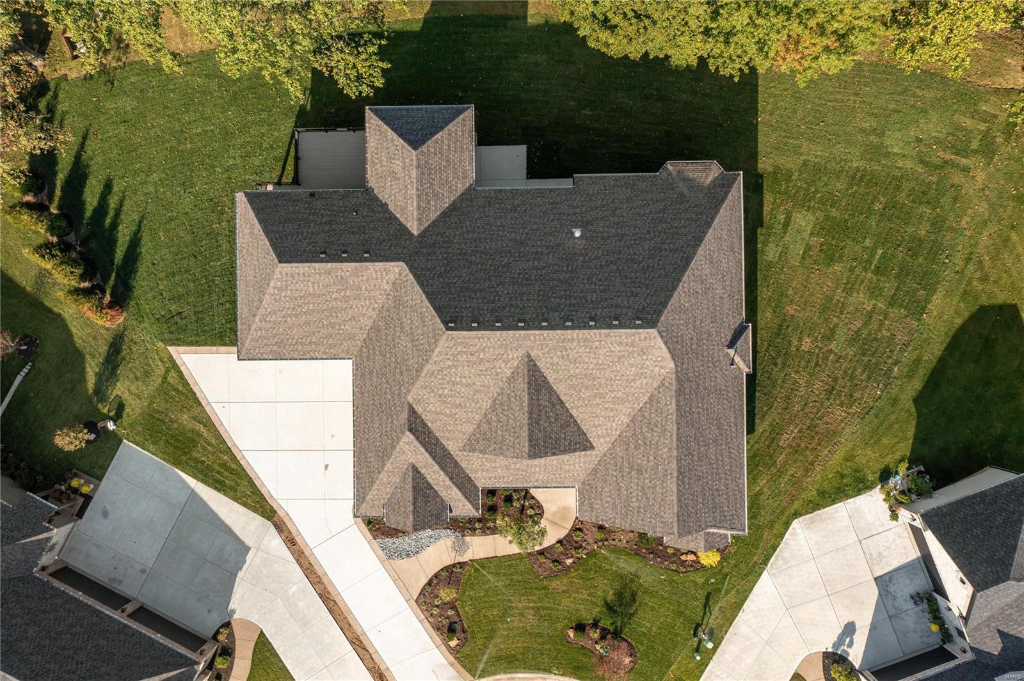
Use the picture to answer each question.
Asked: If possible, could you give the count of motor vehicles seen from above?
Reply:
0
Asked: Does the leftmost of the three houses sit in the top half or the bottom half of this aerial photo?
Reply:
bottom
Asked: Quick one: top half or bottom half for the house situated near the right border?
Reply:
bottom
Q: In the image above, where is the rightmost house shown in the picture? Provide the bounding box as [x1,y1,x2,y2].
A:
[865,466,1024,681]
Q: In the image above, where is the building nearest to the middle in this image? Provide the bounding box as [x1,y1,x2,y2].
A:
[235,103,754,552]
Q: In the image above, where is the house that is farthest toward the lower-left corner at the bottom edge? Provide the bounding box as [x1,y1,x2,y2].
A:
[0,477,220,681]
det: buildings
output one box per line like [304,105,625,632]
[0,477,220,681]
[235,103,754,552]
[865,466,1024,681]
